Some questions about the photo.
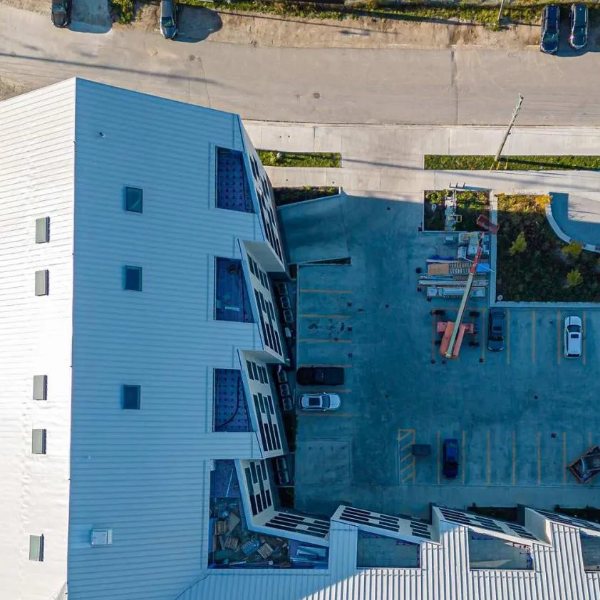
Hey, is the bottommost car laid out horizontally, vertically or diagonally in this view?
vertically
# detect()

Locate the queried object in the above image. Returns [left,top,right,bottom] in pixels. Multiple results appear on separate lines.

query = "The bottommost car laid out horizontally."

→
[299,392,341,412]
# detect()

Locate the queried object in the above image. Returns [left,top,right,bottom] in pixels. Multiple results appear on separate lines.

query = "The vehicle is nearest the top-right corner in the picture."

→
[568,3,590,50]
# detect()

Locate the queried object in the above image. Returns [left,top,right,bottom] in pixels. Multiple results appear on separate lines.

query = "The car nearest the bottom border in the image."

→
[441,437,461,478]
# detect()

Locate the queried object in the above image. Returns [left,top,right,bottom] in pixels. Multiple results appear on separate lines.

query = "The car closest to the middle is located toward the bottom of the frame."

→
[296,365,346,386]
